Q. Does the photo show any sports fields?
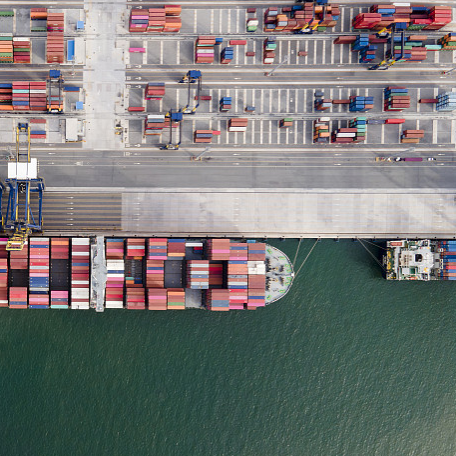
No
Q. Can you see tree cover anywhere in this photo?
No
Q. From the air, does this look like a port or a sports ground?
port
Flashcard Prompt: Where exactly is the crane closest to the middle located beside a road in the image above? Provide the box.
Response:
[160,108,183,150]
